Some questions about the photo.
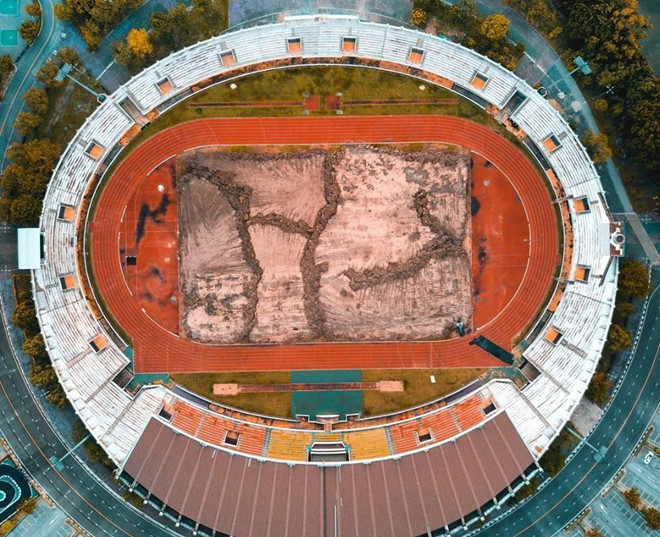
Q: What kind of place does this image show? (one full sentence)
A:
The area seen from above is a sports ground.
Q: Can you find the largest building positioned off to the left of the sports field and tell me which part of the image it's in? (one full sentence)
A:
You can find the largest building positioned off to the left of the sports field in the left area of the picture.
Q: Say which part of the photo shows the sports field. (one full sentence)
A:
The sports field is in the center part of the image.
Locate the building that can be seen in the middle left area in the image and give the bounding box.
[18,228,48,269]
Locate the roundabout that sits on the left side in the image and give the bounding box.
[0,454,37,524]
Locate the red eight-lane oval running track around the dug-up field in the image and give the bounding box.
[90,117,560,373]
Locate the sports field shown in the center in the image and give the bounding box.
[179,148,471,342]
